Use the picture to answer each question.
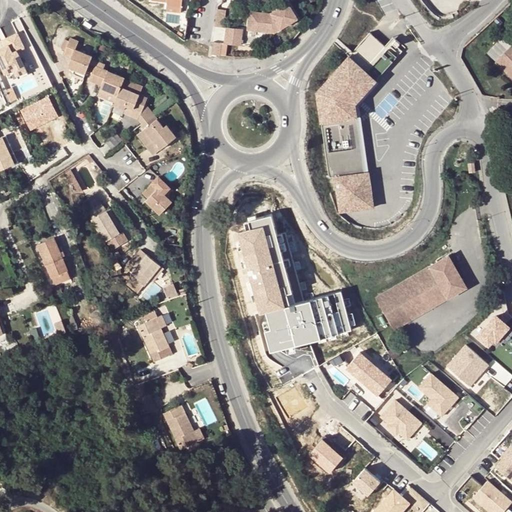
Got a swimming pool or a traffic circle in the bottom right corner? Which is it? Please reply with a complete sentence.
Looking in the bottom right corner, you will find a swimming pool.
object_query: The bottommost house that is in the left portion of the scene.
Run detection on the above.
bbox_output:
[162,406,204,450]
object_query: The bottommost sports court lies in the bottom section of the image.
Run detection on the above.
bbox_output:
[276,386,308,418]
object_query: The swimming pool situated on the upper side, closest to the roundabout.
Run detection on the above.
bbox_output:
[165,162,184,181]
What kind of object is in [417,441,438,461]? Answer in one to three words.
swimming pool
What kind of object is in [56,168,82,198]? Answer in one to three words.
building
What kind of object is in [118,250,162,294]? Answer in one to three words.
house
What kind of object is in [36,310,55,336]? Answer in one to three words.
swimming pool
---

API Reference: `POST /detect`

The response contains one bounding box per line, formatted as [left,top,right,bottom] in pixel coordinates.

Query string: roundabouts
[201,74,300,174]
